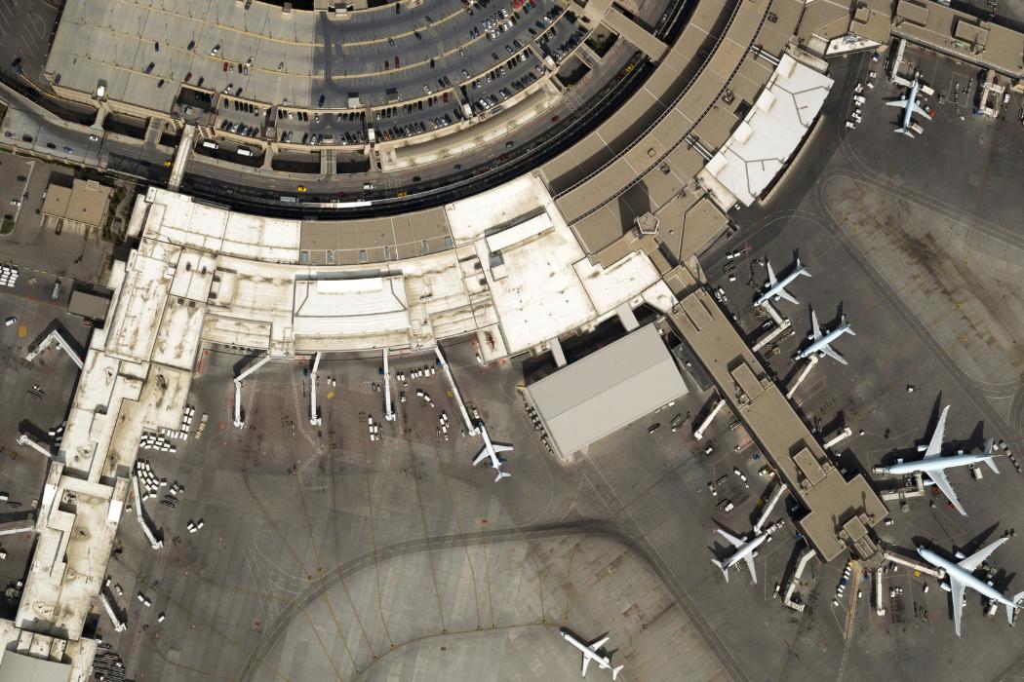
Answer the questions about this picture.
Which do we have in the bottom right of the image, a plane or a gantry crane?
plane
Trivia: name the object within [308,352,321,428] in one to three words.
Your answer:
jet bridge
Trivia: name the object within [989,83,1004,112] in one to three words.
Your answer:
jet bridge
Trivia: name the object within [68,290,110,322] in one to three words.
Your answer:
building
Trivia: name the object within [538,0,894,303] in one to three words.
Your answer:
building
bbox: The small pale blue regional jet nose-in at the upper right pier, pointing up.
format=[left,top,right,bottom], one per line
[884,79,935,135]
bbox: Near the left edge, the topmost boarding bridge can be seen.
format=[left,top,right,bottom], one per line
[22,330,85,368]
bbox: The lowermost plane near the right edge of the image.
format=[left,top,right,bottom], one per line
[919,537,1024,637]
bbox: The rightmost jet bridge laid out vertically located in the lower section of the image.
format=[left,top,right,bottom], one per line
[872,569,888,615]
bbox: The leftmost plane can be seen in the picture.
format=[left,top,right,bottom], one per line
[474,423,515,482]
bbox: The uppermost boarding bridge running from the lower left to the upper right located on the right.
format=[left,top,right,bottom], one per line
[786,352,816,398]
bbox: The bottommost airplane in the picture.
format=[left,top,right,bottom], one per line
[562,633,623,679]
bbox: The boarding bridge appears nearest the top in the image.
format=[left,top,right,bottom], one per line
[890,42,915,90]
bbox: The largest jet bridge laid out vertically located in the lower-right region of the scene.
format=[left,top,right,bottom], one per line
[783,550,816,613]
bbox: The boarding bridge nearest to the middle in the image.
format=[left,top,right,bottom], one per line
[435,346,479,435]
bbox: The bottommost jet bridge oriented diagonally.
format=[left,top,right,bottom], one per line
[100,595,126,632]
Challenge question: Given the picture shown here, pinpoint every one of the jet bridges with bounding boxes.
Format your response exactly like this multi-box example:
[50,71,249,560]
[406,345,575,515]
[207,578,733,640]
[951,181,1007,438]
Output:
[690,400,725,441]
[749,484,787,536]
[17,436,53,459]
[752,296,787,352]
[989,83,1004,112]
[880,470,925,500]
[232,354,270,431]
[783,550,816,613]
[435,346,479,435]
[383,353,396,421]
[0,525,37,536]
[22,330,85,368]
[131,477,165,551]
[872,569,888,615]
[890,42,915,90]
[979,73,1001,120]
[100,595,126,632]
[308,352,321,428]
[884,554,945,578]
[786,352,816,398]
[823,426,851,449]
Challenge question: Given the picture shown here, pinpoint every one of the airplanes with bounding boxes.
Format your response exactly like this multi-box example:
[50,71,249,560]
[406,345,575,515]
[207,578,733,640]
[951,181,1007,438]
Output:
[714,530,769,584]
[562,633,623,679]
[753,258,812,306]
[474,423,515,482]
[919,537,1024,637]
[884,79,935,135]
[800,308,857,362]
[886,404,1005,517]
